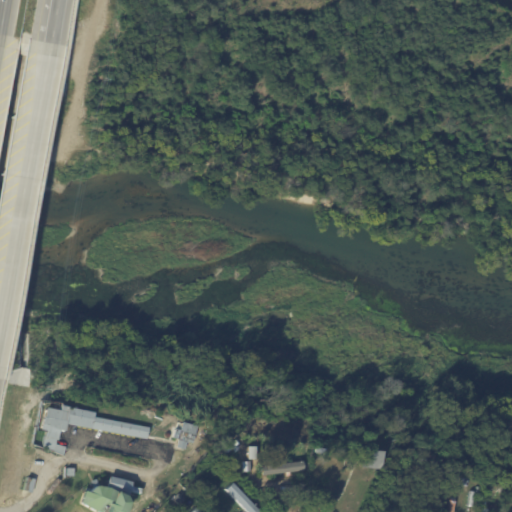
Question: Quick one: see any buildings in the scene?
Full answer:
Yes, the photo shows a building.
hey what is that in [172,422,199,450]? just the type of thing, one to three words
house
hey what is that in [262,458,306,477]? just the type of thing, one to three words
house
